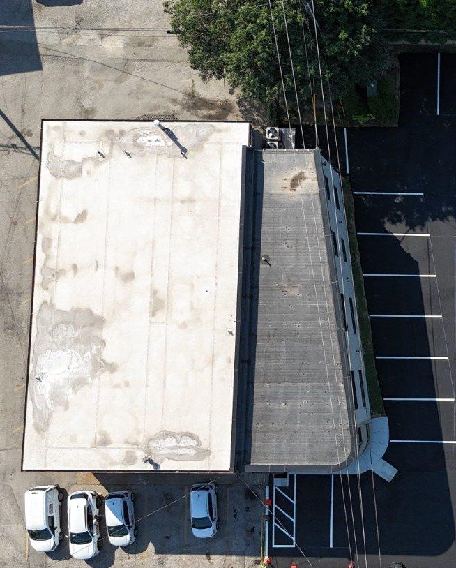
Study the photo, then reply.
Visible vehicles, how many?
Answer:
4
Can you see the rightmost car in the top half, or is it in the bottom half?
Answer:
bottom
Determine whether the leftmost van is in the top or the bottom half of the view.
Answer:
bottom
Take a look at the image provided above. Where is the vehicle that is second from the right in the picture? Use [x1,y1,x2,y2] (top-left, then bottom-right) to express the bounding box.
[106,488,141,548]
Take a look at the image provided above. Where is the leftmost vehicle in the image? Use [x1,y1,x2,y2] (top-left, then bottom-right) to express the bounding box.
[25,482,65,553]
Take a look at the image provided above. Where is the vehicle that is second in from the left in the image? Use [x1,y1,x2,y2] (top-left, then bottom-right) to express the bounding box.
[67,486,105,560]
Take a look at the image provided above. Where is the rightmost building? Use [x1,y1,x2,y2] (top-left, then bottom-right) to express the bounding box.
[242,149,372,473]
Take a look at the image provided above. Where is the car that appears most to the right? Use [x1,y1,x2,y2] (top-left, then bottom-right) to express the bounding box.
[189,479,220,539]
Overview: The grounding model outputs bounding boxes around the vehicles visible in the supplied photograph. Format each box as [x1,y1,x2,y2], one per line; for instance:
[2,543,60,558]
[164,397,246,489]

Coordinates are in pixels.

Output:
[189,479,220,539]
[25,482,65,553]
[106,488,141,548]
[67,486,105,560]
